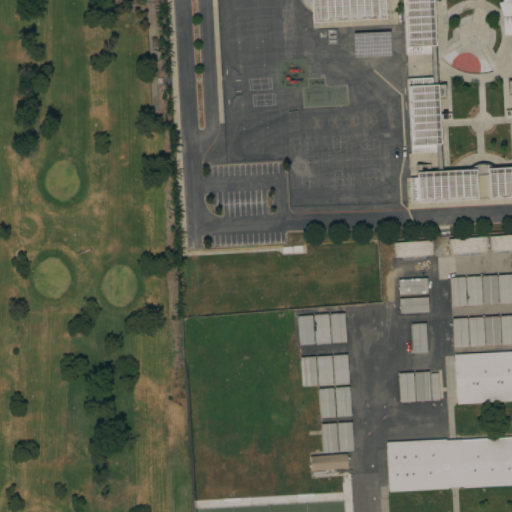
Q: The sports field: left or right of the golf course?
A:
on the right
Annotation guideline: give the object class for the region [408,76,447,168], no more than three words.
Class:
building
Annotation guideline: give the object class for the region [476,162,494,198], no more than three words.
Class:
building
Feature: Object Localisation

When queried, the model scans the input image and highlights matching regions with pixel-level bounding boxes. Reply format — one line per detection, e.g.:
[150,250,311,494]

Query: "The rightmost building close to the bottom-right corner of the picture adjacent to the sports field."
[388,436,512,492]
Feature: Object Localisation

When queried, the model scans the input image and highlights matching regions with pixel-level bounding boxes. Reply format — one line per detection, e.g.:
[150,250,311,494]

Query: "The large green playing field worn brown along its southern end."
[184,310,350,512]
